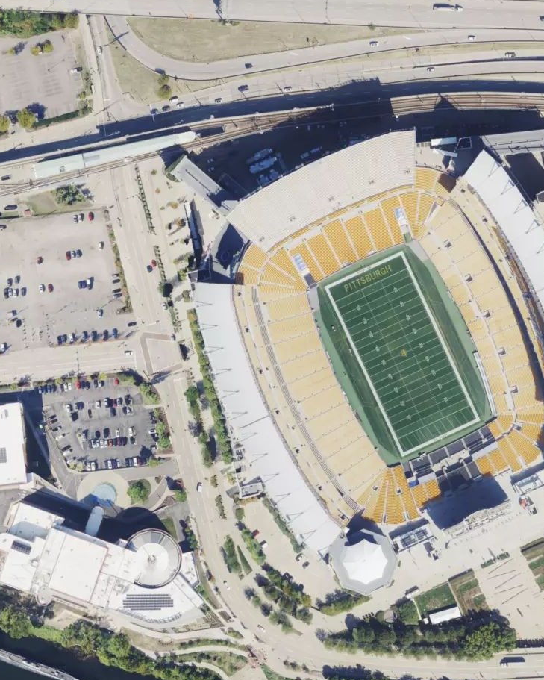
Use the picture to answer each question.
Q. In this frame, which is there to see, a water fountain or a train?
water fountain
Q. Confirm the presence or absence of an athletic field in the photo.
Yes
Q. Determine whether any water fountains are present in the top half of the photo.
No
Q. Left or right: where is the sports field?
right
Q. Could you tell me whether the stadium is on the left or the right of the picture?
right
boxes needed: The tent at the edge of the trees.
[430,607,461,624]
